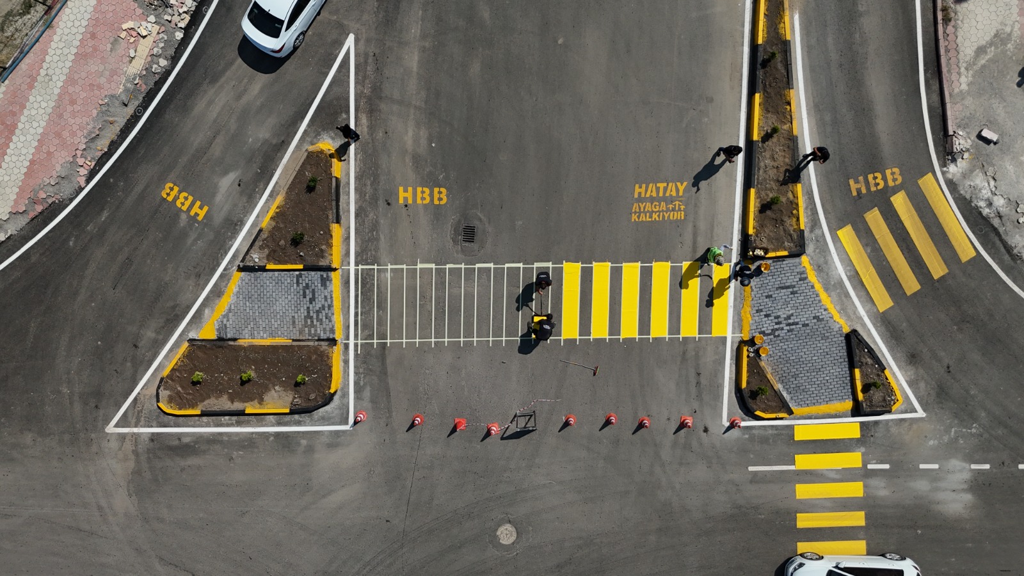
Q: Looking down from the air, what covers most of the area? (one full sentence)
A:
The largest share of the image is taken up by paved ground.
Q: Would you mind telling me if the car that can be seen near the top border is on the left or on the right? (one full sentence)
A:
The car that can be seen near the top border is on the left side of the image.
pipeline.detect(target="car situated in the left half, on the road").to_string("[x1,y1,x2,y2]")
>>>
[240,0,329,58]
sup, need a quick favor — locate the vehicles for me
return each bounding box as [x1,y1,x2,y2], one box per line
[240,0,329,58]
[783,552,922,576]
